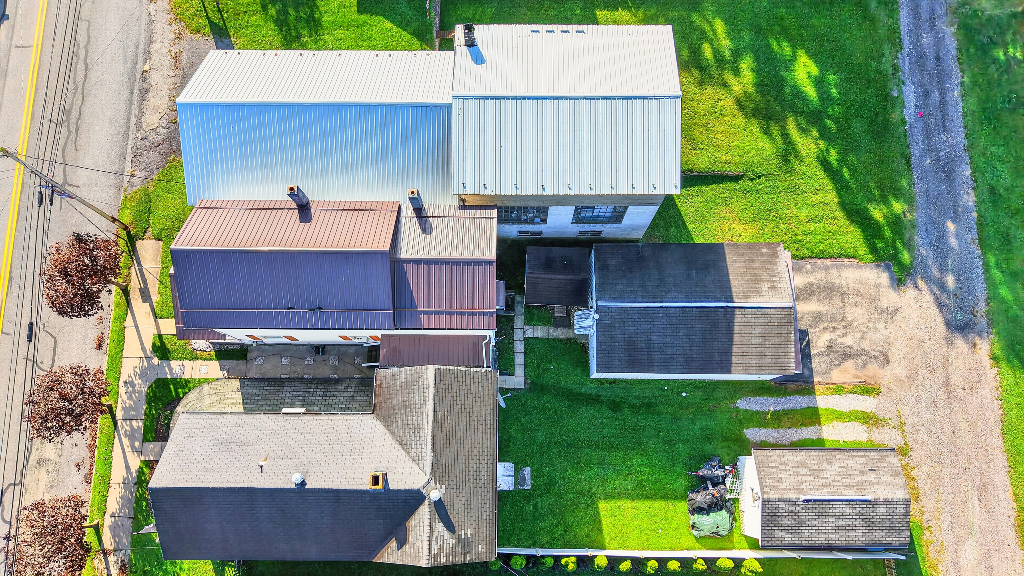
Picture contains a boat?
No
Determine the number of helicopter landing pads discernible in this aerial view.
none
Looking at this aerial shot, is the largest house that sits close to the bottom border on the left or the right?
left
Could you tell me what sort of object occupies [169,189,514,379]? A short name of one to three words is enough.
house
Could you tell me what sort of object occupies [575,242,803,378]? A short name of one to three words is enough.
building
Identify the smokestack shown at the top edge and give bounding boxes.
[465,24,477,45]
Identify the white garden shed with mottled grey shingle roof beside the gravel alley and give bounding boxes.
[739,446,912,549]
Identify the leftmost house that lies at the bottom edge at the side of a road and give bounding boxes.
[148,363,500,568]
